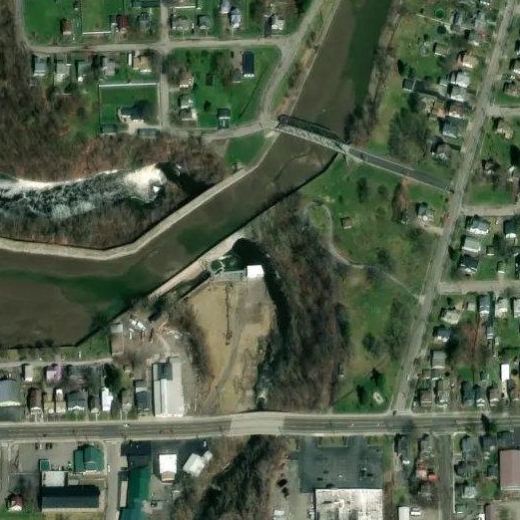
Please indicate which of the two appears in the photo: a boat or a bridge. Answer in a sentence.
Of the two, only a bridge appears.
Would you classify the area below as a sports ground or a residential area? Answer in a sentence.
It's a residential area.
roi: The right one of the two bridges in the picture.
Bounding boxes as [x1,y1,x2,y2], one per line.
[275,119,346,154]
